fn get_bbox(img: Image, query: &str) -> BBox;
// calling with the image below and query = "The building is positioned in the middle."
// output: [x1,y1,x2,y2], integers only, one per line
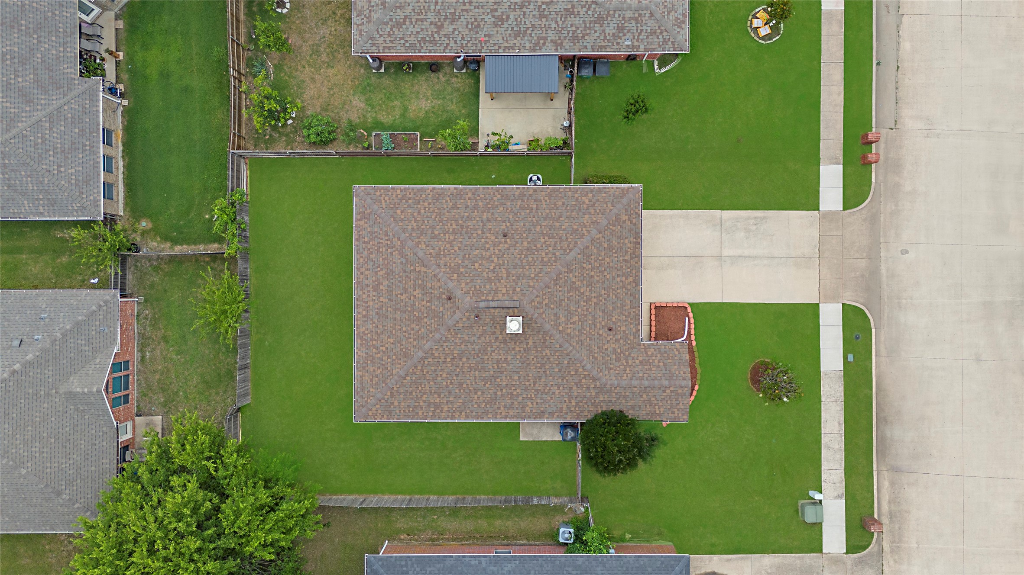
[353,185,693,422]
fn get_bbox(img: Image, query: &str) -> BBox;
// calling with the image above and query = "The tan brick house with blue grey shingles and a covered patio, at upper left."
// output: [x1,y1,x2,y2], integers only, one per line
[0,0,134,220]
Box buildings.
[352,0,689,64]
[353,185,693,422]
[0,0,134,220]
[0,289,149,534]
[365,539,690,575]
